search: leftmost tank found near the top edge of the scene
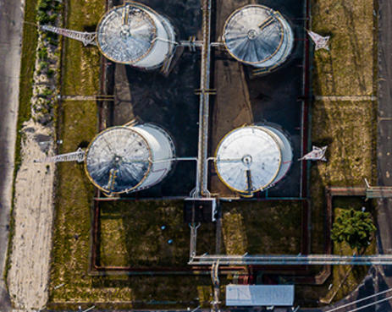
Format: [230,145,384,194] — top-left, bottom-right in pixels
[93,0,177,72]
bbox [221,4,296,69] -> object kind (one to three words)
storage tank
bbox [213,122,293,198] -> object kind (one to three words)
storage tank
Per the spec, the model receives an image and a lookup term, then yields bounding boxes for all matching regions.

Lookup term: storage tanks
[82,124,175,199]
[221,4,296,69]
[213,122,293,198]
[93,0,177,72]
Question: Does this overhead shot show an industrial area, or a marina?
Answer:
industrial area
